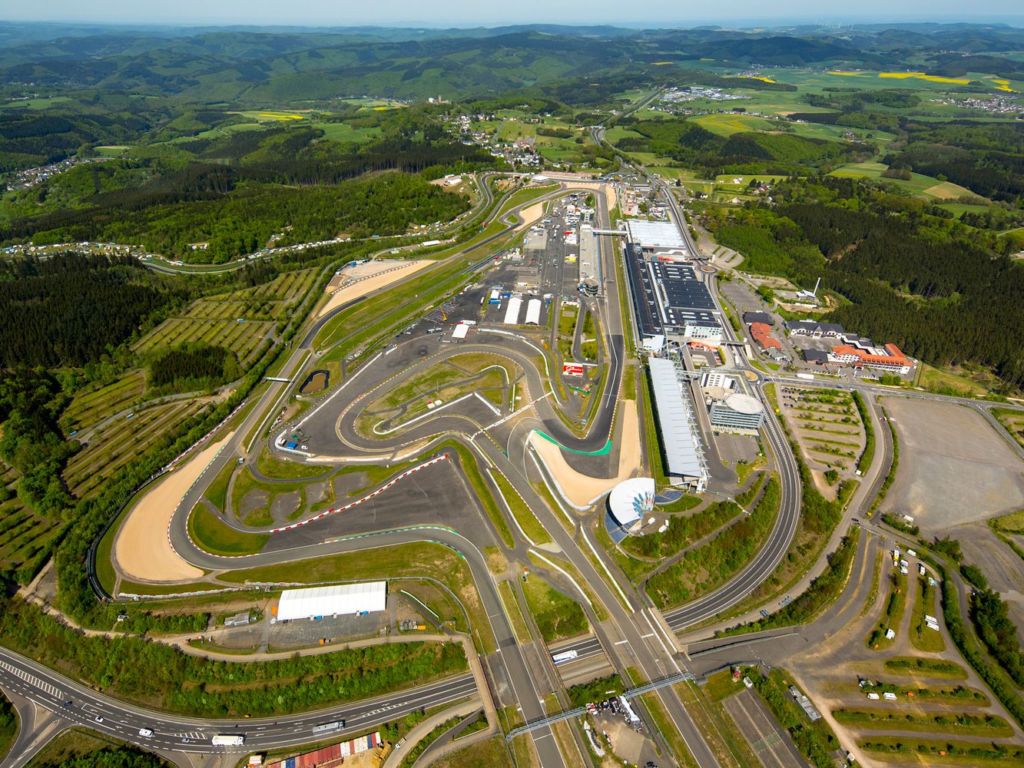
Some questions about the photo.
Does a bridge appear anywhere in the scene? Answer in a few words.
Yes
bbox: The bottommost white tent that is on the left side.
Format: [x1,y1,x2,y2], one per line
[277,581,387,625]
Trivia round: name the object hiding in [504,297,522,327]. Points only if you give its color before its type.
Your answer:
white tent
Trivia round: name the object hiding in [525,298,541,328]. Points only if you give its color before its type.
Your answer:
white tent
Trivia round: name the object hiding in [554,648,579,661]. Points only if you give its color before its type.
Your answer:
white vehicle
